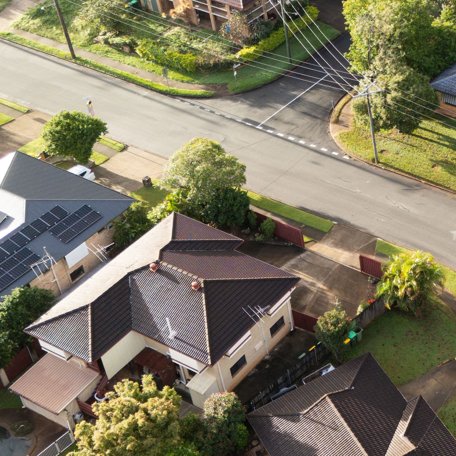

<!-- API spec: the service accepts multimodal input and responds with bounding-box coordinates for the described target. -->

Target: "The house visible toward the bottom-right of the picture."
[244,349,456,456]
